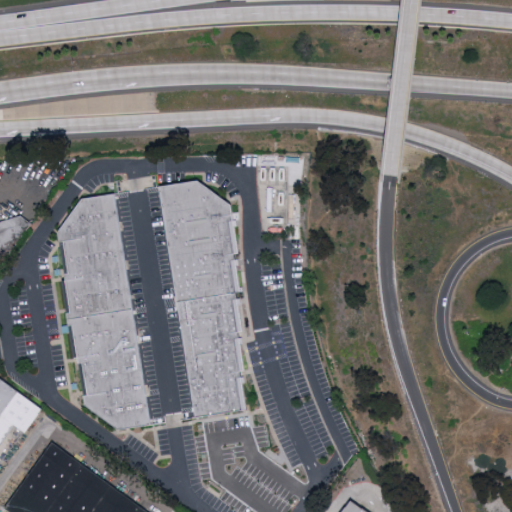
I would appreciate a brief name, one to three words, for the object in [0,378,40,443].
building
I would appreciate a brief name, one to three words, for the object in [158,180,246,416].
building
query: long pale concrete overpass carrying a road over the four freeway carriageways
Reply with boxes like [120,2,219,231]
[384,0,420,176]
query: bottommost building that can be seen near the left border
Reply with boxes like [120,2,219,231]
[2,442,147,512]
